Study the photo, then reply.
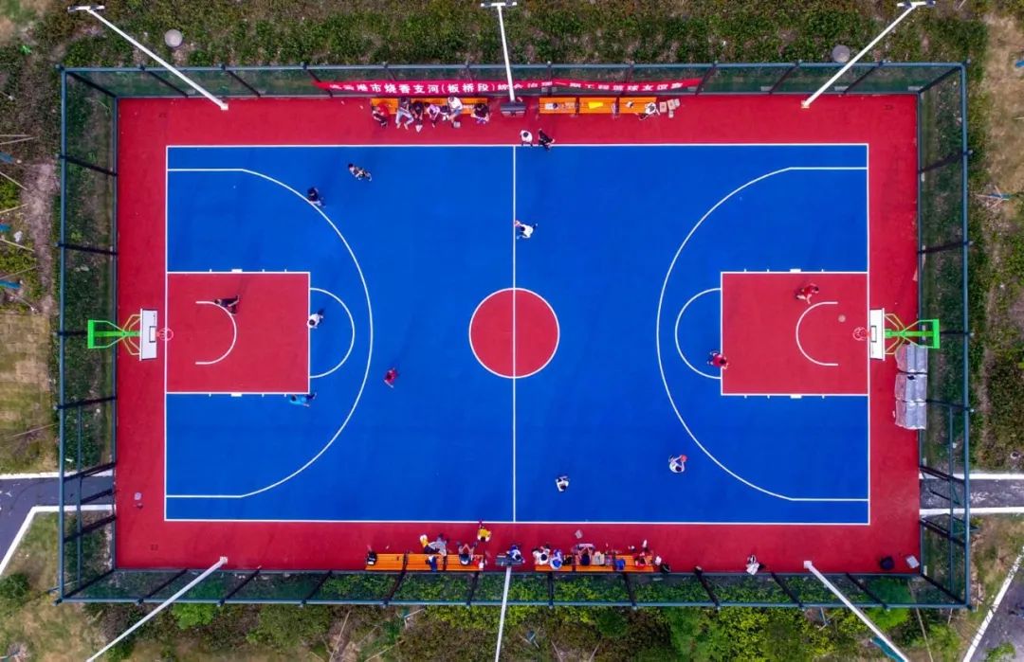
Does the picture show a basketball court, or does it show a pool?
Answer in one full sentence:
Visible in the photo is a basketball court.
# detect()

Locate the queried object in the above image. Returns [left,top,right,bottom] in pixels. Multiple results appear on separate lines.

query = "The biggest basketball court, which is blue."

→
[114,93,921,575]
